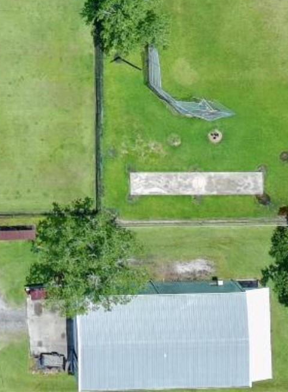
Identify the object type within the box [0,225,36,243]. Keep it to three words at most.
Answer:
shed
